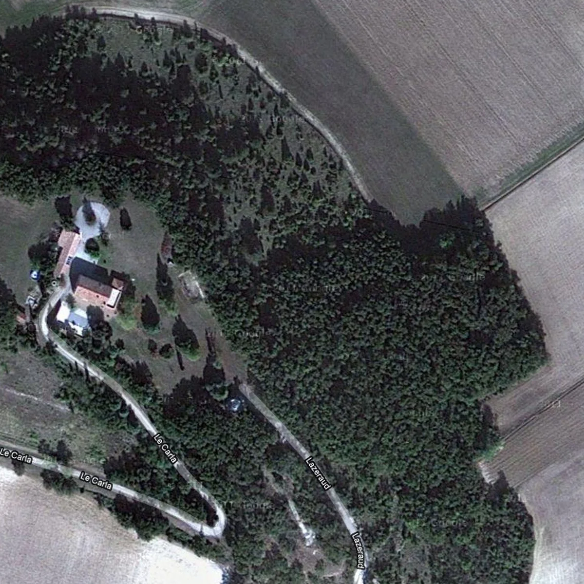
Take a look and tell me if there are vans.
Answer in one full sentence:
No, I can't see a single van in this photo.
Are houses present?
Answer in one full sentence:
Yes, a house is visible in the scene.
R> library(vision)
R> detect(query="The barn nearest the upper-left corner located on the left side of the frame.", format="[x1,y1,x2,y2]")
[54,231,82,275]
